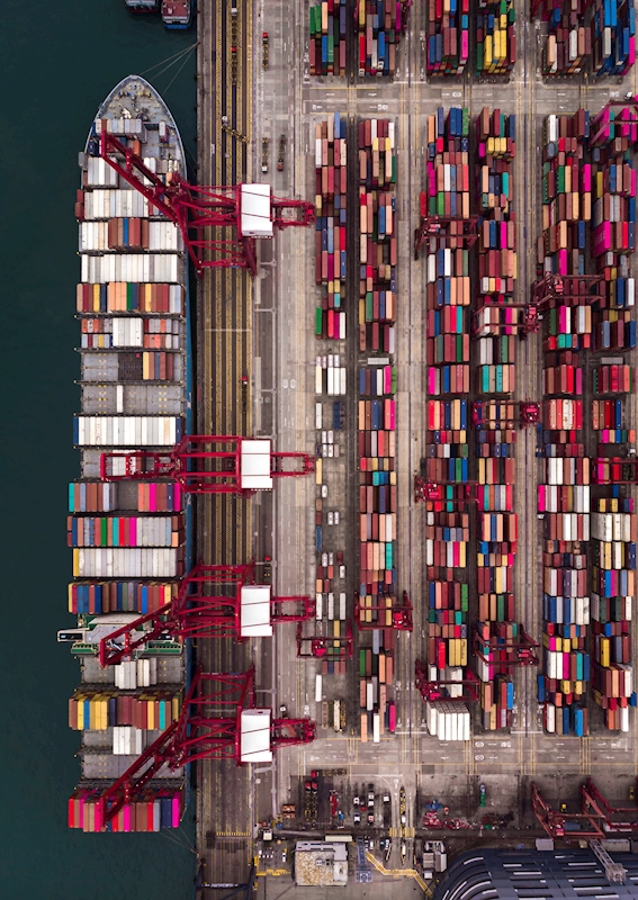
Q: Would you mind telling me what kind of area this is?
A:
port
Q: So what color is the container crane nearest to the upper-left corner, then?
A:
red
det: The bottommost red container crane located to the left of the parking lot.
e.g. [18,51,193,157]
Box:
[99,664,316,832]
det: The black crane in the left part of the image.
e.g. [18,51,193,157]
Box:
[188,854,259,900]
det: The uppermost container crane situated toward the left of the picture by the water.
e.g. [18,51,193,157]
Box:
[99,129,316,279]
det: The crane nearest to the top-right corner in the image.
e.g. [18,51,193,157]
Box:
[591,98,638,145]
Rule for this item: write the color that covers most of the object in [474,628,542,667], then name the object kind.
red crane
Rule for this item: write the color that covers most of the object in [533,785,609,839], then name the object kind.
red crane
